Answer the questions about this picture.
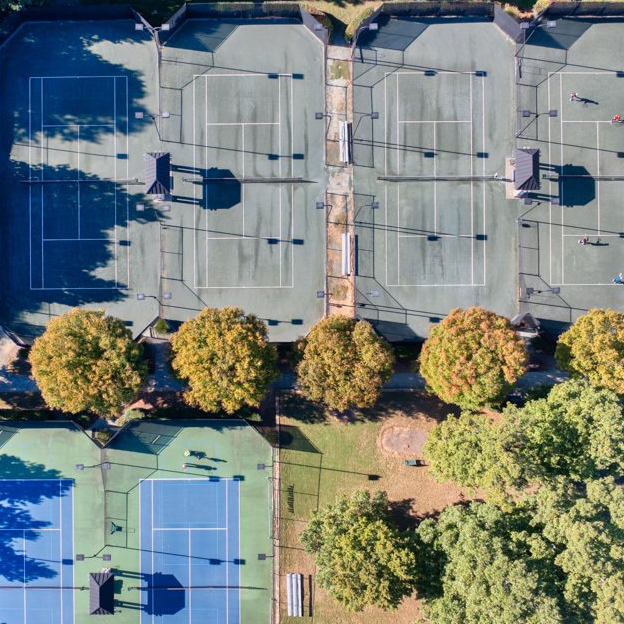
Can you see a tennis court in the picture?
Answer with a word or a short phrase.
Yes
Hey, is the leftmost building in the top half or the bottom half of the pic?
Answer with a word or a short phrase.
bottom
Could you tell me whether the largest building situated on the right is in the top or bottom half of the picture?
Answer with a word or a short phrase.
top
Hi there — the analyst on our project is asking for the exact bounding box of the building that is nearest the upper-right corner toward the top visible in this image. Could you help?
[505,148,541,200]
